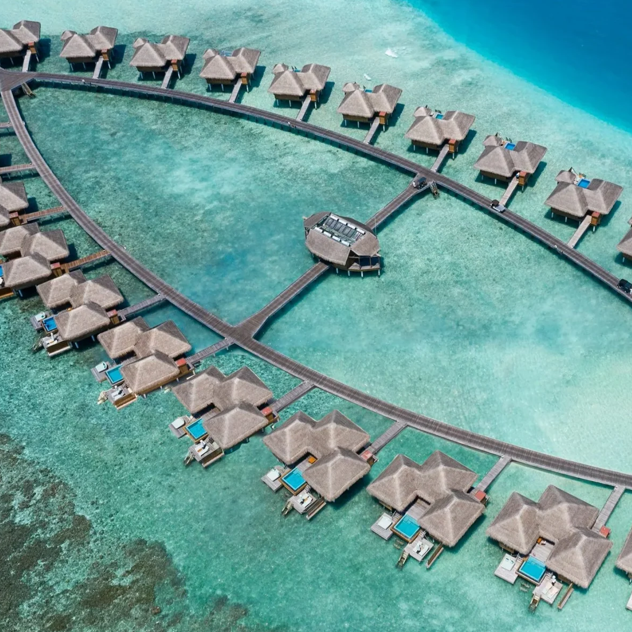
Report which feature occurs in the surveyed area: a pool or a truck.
pool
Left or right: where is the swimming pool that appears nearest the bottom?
right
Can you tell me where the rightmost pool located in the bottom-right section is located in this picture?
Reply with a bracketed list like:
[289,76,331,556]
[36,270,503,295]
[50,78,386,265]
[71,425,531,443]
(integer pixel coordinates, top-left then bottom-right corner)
[516,556,549,586]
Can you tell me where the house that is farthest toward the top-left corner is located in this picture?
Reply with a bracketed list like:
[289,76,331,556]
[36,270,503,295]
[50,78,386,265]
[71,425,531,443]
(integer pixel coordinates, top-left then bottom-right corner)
[0,18,41,68]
